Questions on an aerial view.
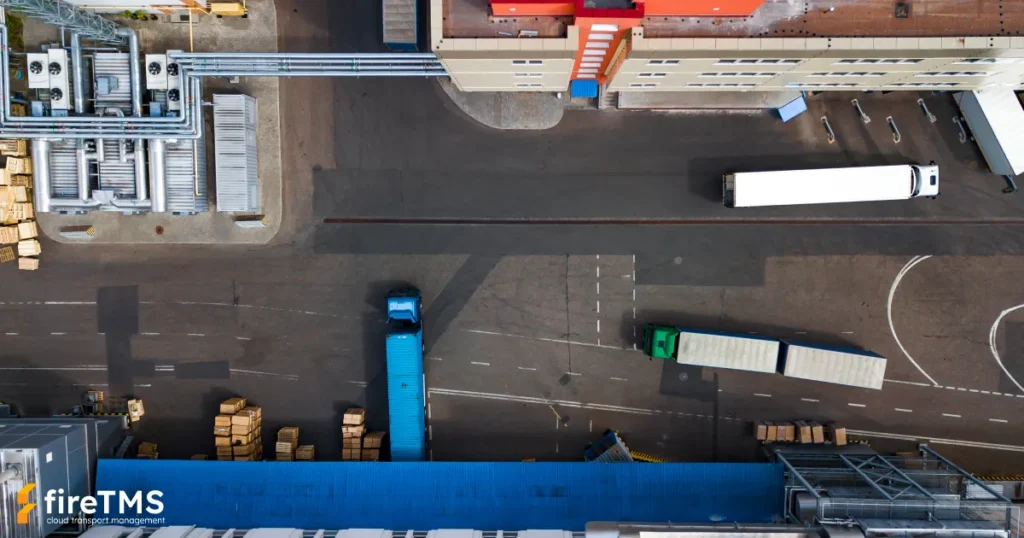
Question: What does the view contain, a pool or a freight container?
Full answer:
Looking from above, you can make out a freight container.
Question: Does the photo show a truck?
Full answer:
Yes, you can see a truck in this photo.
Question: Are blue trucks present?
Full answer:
Yes, the picture does show a blue truck.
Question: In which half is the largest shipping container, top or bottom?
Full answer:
You can find the largest shipping container in the top half.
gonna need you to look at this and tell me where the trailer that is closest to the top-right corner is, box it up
[957,83,1024,188]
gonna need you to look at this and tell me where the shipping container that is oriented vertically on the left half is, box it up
[213,94,258,212]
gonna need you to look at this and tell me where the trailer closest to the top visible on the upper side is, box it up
[383,0,424,52]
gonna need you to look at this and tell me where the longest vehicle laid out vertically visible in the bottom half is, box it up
[385,288,429,461]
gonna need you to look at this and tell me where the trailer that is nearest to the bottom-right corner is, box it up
[775,336,886,390]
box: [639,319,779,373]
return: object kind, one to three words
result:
truck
